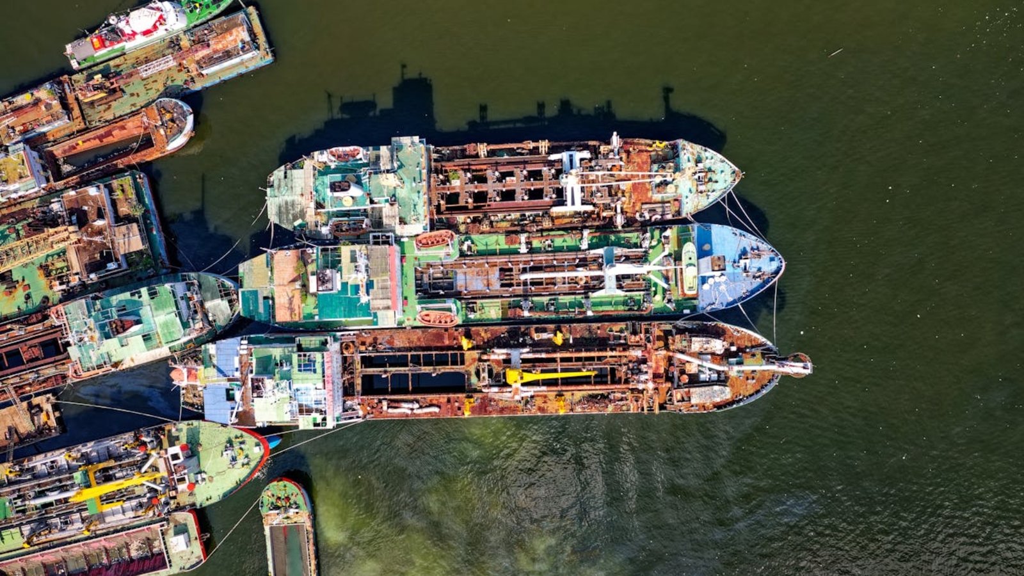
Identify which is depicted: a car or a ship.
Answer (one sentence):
Of the two, only a ship appears.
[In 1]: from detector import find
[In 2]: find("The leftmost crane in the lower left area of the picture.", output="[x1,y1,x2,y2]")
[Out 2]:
[69,458,172,514]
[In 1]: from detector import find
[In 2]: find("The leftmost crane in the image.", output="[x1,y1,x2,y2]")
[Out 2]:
[0,222,94,273]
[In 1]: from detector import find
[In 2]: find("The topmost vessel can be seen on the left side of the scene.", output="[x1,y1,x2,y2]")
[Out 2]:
[61,0,247,72]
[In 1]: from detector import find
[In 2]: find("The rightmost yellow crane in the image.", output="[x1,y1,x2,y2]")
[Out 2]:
[507,366,599,385]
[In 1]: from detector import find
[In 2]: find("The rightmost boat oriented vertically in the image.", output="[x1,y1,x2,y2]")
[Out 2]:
[680,243,697,295]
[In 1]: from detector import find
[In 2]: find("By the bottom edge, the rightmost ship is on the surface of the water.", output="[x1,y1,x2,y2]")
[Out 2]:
[258,473,321,576]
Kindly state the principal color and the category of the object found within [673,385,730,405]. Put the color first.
white boat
